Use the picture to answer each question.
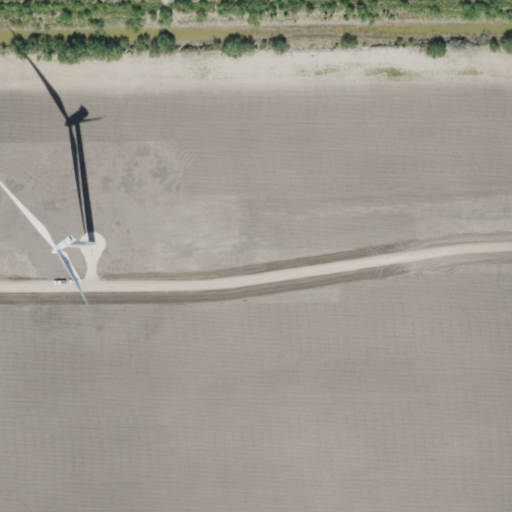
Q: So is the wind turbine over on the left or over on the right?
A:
left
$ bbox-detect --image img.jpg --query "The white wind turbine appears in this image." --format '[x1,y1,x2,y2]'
[0,178,97,305]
